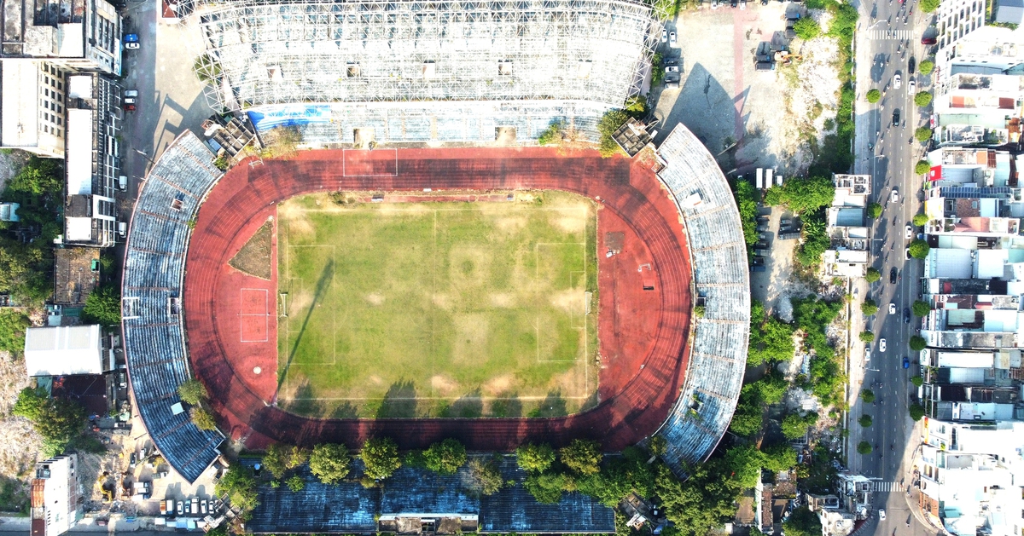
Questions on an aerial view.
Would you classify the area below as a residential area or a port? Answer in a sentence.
The area seen from above is a residential area.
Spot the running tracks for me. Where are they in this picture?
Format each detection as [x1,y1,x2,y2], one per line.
[184,147,692,452]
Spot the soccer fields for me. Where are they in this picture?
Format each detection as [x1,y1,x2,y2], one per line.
[277,192,599,420]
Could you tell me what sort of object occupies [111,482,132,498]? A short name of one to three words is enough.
work vehicle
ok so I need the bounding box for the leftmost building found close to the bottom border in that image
[34,449,95,536]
